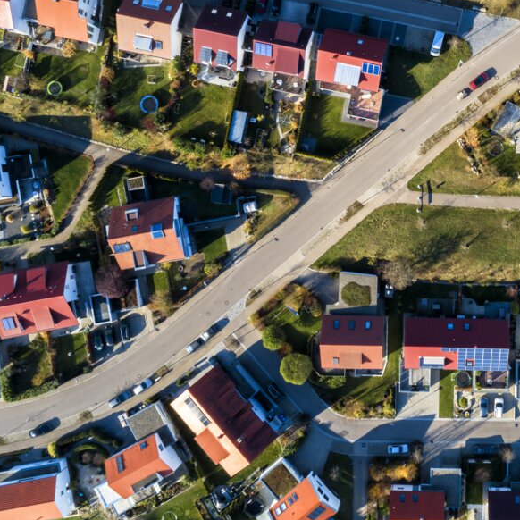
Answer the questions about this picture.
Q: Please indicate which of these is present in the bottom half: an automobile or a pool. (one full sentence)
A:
The feature located in the bottom half is an automobile.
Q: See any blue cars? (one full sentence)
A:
Yes, the picture does show a blue car.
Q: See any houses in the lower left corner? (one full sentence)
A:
Yes, the scene does show a house in the lower left corner.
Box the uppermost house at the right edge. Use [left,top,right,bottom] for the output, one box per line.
[404,317,512,370]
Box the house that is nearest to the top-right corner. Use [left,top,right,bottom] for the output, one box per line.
[316,27,388,94]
